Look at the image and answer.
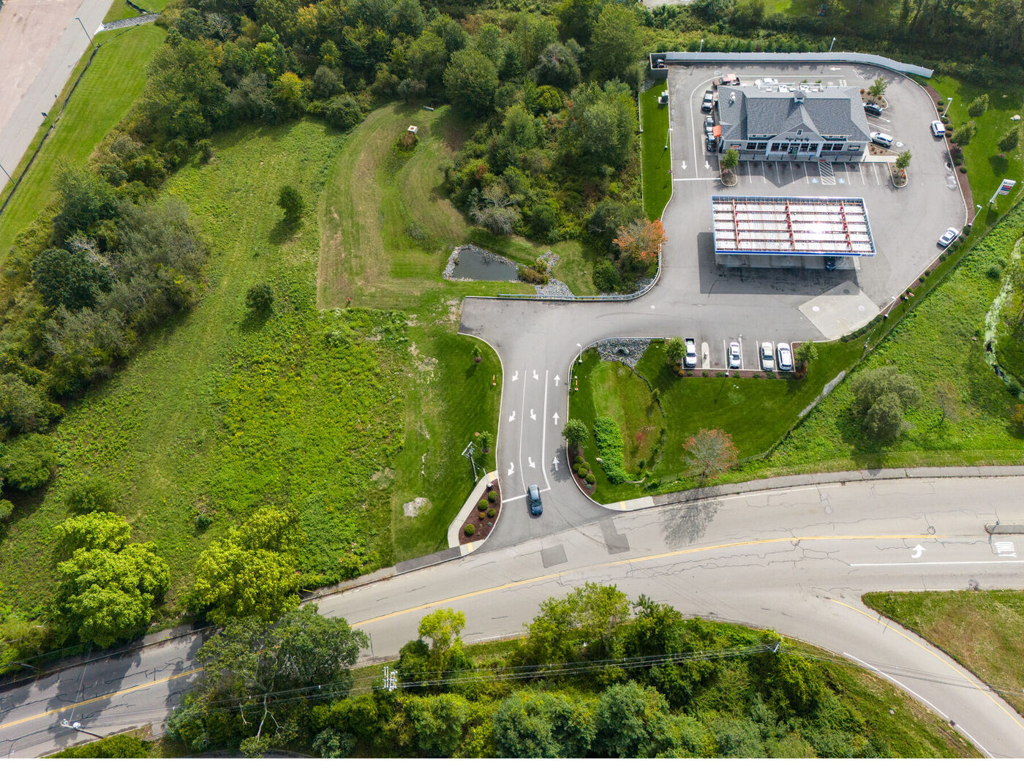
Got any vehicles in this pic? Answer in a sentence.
Yes, looking at the shot, I can spot a vehicle.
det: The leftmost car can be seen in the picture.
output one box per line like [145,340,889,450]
[526,484,543,517]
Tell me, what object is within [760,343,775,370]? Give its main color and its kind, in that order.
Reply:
white car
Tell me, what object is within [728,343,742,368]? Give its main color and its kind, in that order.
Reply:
white car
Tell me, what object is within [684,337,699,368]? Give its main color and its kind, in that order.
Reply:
white vehicle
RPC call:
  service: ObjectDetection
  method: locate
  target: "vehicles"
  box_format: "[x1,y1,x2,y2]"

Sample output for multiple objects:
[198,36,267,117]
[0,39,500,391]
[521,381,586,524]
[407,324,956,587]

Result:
[777,344,793,370]
[701,91,714,110]
[705,116,716,134]
[870,132,895,147]
[760,343,775,370]
[706,134,718,151]
[713,75,742,88]
[862,102,885,116]
[684,337,699,368]
[526,484,543,517]
[930,122,947,139]
[728,343,742,368]
[938,227,960,247]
